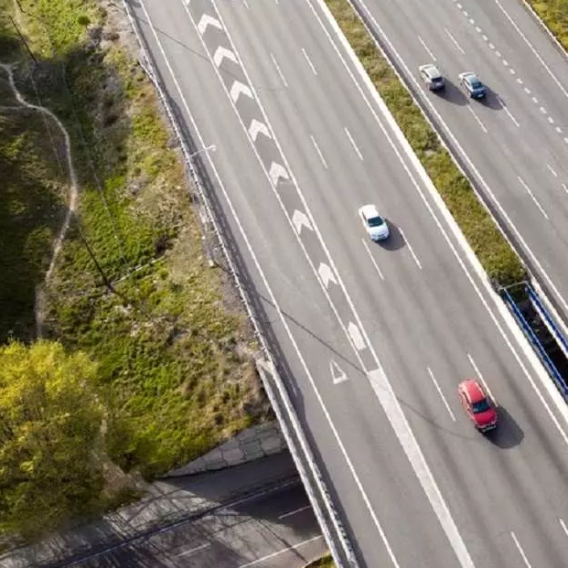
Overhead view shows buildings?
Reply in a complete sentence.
No, no building can be seen from above.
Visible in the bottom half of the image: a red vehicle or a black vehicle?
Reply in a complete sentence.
Looking in the bottom half of the image, you will find a red vehicle.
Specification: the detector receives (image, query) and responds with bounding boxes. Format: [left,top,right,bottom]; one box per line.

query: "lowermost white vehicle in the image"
[358,206,389,240]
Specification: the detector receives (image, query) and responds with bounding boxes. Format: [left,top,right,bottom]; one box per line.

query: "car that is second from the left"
[419,65,446,93]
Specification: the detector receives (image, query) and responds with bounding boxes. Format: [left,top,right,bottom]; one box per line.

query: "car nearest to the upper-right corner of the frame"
[459,74,487,101]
